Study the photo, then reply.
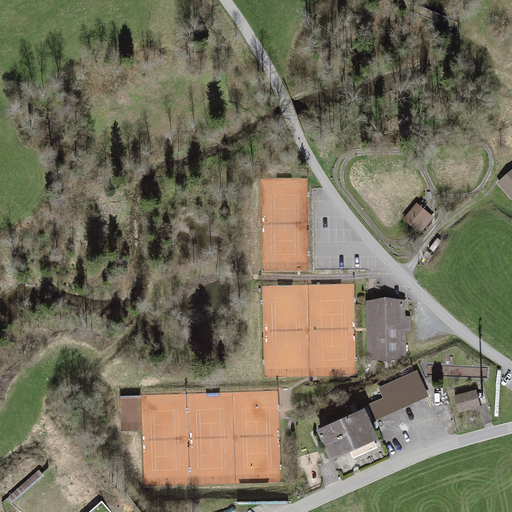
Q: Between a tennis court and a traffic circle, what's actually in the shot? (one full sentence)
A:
Of the two, only a tennis court appears.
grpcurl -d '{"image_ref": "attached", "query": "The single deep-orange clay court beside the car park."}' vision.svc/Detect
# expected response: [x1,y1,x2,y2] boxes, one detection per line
[260,178,309,271]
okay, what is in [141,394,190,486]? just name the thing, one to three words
tennis court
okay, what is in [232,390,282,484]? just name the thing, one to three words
tennis court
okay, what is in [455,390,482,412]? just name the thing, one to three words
house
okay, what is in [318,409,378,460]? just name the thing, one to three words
building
